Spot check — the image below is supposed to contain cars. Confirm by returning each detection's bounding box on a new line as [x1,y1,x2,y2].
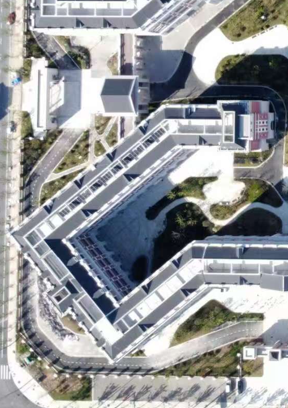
[236,380,243,393]
[5,121,11,134]
[225,380,231,394]
[7,11,14,24]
